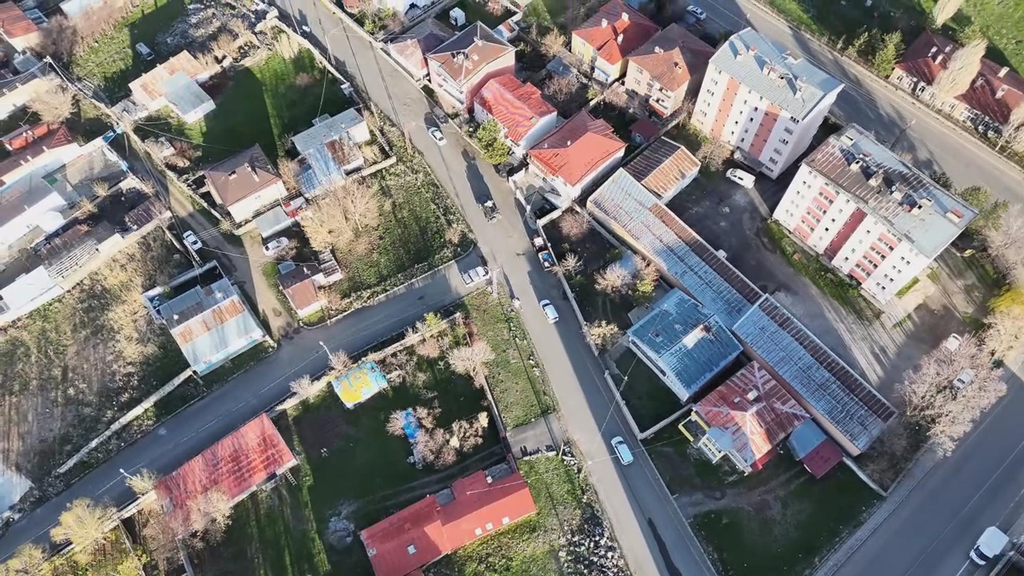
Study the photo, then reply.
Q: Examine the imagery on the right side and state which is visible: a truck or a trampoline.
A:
truck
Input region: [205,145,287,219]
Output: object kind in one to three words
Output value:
house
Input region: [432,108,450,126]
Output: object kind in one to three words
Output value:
car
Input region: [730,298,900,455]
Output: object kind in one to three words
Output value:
shed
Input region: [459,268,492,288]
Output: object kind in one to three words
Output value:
vehicle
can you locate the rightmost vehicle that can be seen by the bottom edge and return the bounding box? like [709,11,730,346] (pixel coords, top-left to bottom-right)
[966,524,1013,566]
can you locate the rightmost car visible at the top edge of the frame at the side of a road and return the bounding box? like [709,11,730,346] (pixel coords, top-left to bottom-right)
[685,6,707,22]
